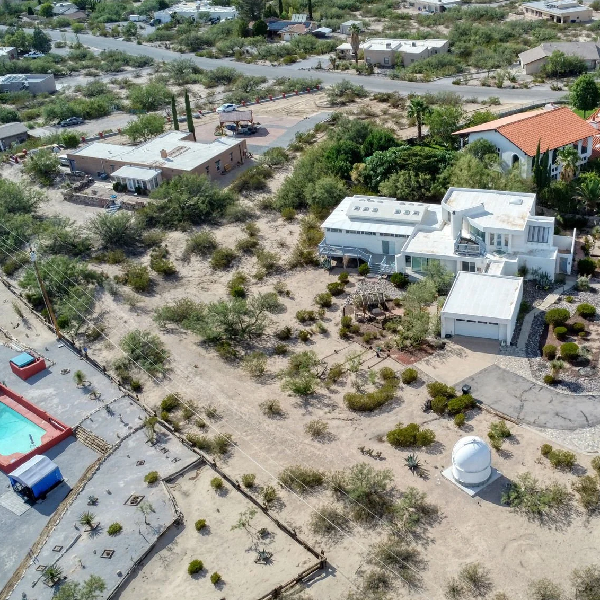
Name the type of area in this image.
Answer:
residential area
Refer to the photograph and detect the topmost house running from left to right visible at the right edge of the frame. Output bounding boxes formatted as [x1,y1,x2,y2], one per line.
[509,0,592,30]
